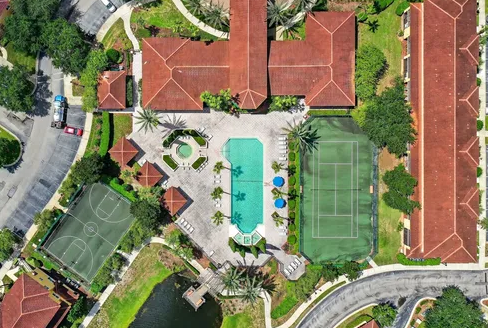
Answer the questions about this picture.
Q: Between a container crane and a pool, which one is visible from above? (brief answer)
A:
pool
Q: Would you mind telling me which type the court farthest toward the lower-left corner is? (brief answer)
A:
basketball court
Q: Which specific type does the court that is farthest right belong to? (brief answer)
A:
tennis court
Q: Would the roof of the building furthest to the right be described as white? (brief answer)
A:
No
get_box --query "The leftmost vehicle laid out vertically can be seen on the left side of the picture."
[52,93,66,129]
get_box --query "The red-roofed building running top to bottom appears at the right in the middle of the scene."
[402,0,479,262]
